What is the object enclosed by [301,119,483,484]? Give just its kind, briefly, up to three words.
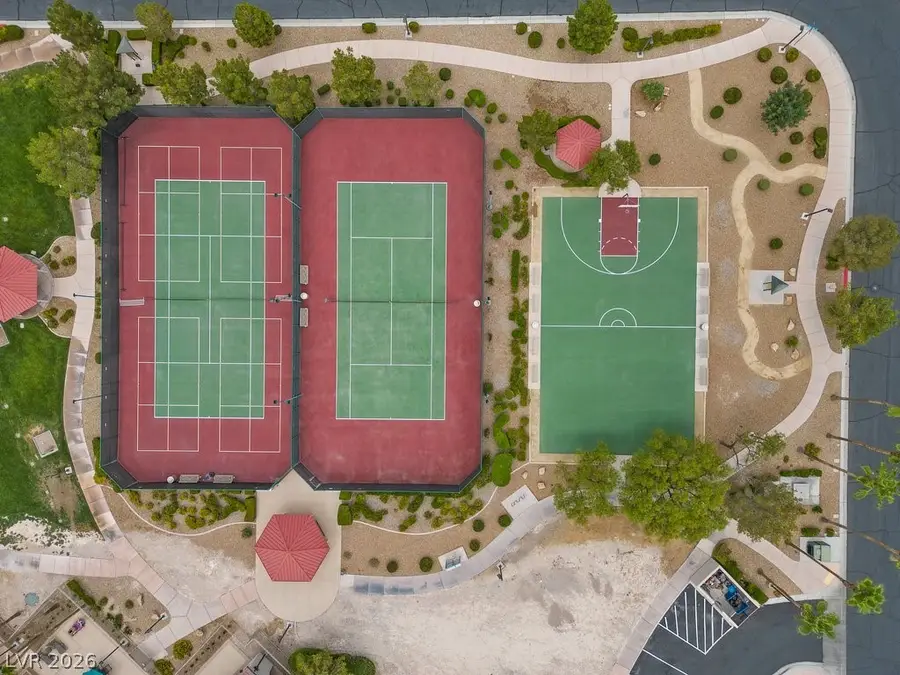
tennis court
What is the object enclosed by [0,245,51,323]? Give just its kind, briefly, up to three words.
building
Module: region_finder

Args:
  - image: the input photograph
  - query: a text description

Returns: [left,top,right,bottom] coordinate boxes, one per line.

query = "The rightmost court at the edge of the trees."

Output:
[529,187,709,461]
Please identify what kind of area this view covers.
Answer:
sports ground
